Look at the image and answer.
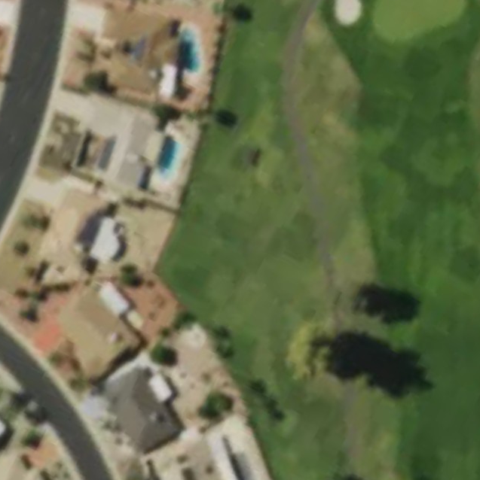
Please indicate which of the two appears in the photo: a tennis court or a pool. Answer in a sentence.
Visible in the photo is a pool.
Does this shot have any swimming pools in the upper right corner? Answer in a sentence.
No, I can find no swimming pool in the upper right corner.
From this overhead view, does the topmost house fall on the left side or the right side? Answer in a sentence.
You can find the topmost house on the left side of the picture.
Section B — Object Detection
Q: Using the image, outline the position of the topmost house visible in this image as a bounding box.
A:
[99,5,180,98]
